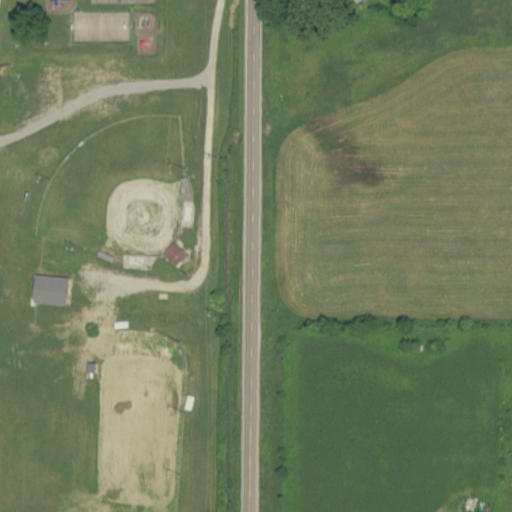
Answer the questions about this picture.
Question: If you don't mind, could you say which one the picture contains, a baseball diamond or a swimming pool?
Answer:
baseball diamond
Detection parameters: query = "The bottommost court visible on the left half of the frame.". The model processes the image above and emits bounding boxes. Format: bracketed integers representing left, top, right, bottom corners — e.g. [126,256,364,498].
[74,12,130,42]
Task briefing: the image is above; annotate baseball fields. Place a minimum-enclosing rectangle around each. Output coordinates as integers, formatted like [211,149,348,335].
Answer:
[106,178,182,253]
